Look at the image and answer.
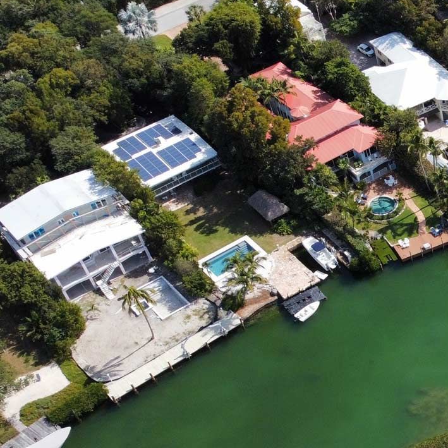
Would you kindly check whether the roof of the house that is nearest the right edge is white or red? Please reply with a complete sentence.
The color of the roof of the house that is nearest the right edge is white.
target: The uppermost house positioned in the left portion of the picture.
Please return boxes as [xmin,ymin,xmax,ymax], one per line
[111,115,222,199]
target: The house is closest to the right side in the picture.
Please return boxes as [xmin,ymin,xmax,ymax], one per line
[366,33,448,132]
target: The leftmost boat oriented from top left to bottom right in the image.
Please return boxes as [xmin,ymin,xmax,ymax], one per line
[303,237,338,271]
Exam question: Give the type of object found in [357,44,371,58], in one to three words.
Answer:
car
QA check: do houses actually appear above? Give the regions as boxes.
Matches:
[111,115,222,199]
[366,33,448,132]
[0,166,154,303]
[281,14,350,62]
[258,57,395,179]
